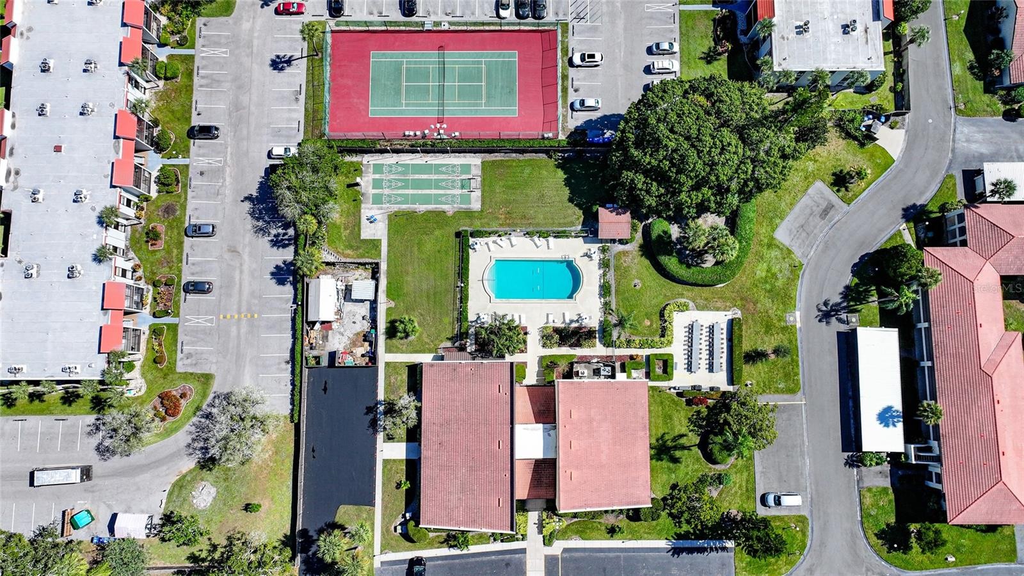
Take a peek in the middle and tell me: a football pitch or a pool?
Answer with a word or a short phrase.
pool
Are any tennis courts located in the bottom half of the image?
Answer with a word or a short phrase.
No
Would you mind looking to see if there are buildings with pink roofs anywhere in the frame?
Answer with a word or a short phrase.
Yes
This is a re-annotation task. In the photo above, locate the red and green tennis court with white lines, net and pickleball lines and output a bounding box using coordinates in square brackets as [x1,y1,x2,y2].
[327,31,558,139]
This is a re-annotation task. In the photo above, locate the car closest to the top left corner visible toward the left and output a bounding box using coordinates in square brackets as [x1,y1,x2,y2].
[187,125,219,138]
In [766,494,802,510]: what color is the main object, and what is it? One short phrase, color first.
white vehicle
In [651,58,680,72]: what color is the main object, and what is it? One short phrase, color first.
white car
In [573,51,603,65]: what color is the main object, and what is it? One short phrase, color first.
white car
